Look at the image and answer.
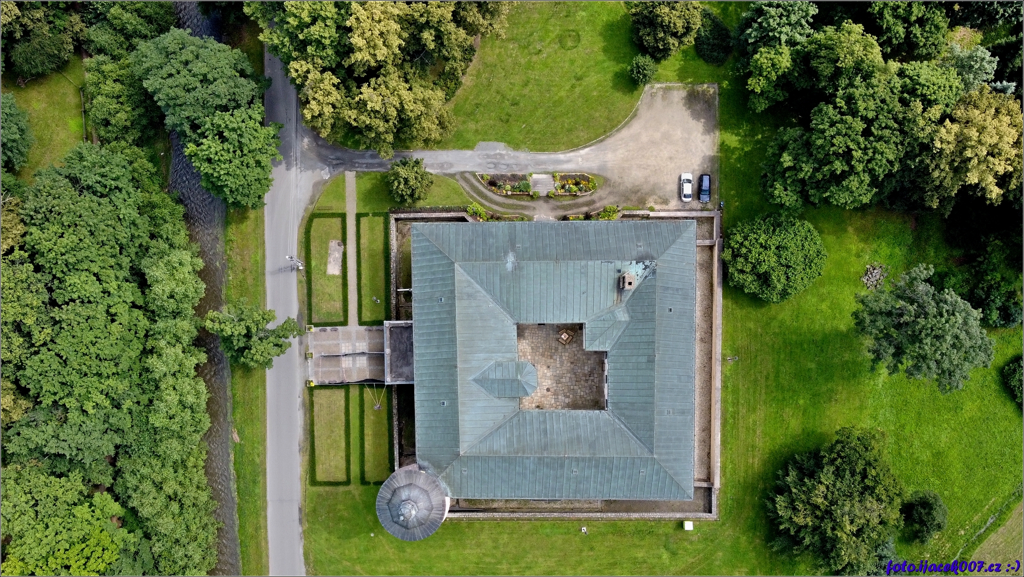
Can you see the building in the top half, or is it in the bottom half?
bottom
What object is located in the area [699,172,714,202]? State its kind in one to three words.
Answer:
car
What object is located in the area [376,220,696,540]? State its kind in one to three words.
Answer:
building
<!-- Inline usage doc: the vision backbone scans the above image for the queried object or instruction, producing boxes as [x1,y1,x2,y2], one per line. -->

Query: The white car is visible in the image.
[681,171,695,202]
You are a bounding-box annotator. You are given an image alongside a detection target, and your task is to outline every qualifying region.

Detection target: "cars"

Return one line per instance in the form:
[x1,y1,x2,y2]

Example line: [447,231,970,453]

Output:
[699,172,714,202]
[681,171,695,202]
